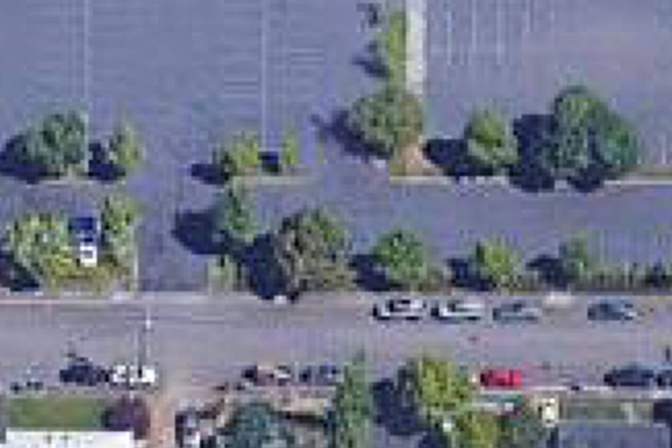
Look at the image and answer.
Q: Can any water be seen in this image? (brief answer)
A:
No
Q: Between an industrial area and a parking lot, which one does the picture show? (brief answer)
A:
parking lot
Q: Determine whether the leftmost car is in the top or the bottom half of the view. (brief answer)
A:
bottom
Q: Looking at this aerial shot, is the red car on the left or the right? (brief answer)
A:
right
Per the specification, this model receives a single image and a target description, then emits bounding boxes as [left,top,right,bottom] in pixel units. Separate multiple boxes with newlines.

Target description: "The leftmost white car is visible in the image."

[110,364,156,385]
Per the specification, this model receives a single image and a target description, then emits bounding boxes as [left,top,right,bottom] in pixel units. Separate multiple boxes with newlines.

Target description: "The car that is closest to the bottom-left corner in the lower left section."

[59,360,111,385]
